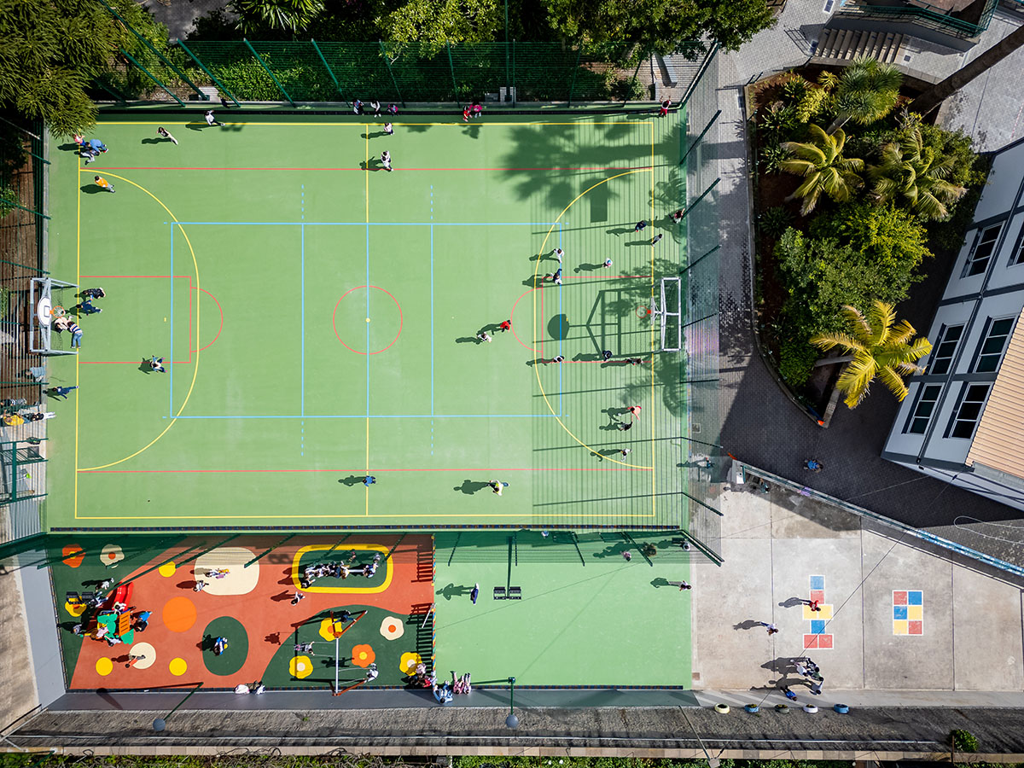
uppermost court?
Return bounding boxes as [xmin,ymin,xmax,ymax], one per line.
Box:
[44,103,688,535]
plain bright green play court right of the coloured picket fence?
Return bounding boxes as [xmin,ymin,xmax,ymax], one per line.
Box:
[434,535,692,688]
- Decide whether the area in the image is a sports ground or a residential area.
sports ground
